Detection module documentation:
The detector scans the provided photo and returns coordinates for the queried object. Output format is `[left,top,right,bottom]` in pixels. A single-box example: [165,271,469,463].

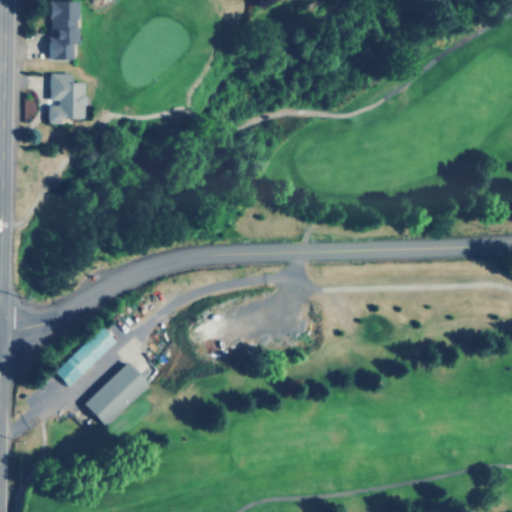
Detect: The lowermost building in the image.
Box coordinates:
[86,364,149,427]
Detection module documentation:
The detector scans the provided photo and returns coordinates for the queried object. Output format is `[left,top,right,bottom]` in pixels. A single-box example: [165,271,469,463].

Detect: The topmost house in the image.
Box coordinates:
[49,0,83,60]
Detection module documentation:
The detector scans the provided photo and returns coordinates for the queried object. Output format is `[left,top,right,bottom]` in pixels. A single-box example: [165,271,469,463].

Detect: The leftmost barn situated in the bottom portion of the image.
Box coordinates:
[56,328,117,388]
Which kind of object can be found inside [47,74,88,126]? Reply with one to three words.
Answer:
house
